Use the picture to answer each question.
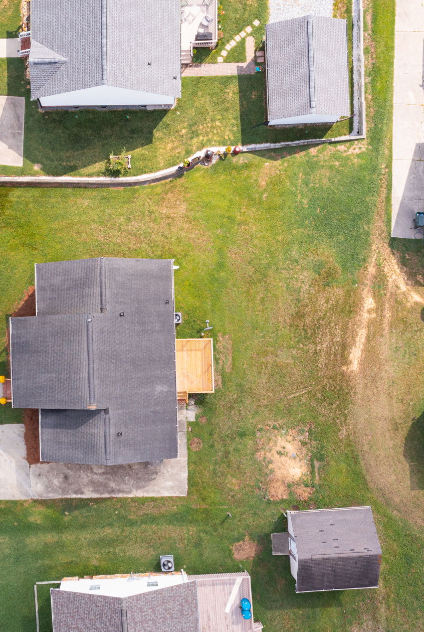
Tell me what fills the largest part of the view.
grass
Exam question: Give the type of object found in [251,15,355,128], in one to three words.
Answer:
building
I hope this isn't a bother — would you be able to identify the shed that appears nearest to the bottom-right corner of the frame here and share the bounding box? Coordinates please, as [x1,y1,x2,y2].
[286,505,382,594]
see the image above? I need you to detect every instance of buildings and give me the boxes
[251,15,355,128]
[5,258,180,464]
[49,573,200,632]
[286,505,382,594]
[16,0,182,112]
